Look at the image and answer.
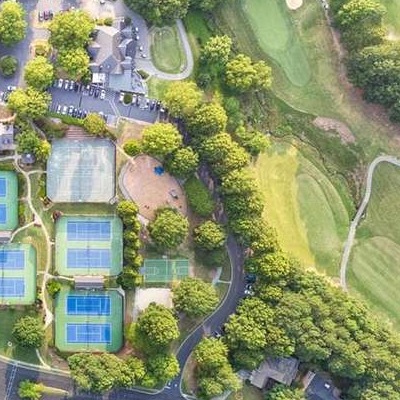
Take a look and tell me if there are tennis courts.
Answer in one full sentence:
Yes, looking at the shot, I can spot a tennis court.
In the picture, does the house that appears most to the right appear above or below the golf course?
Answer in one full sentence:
Relative to the golf course, the house that appears most to the right lies below it.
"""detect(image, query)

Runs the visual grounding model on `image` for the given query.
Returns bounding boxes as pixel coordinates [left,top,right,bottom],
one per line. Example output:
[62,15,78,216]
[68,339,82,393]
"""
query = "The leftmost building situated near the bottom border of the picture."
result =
[247,355,298,388]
